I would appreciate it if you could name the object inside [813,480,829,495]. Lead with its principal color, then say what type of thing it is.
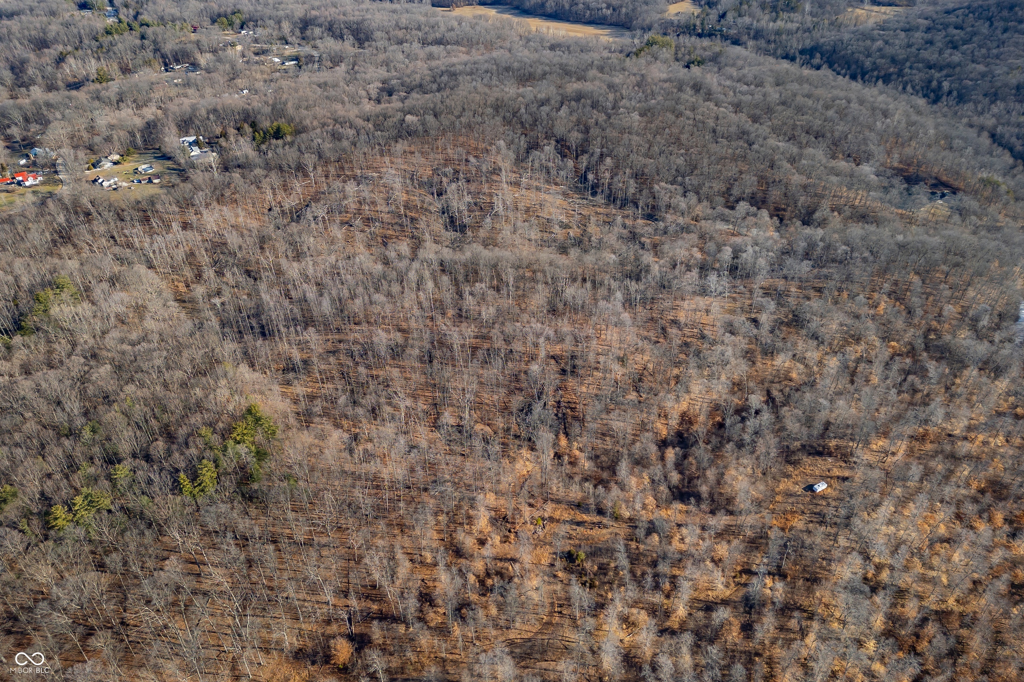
white vehicle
